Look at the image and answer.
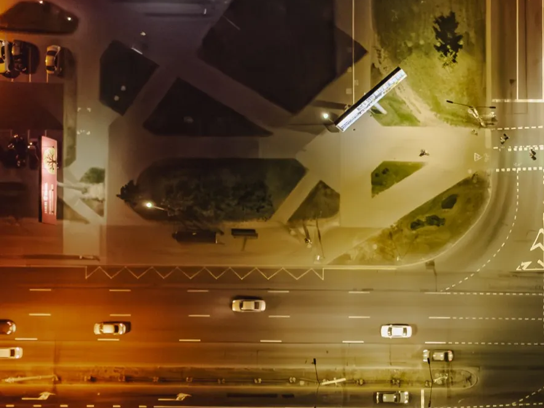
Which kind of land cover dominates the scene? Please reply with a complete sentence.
What you mostly see from above here is paved ground.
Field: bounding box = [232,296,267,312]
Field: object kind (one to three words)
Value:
car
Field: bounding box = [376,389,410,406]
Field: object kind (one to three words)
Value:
car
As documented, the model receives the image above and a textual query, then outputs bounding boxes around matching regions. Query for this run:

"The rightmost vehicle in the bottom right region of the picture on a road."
[424,347,458,364]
